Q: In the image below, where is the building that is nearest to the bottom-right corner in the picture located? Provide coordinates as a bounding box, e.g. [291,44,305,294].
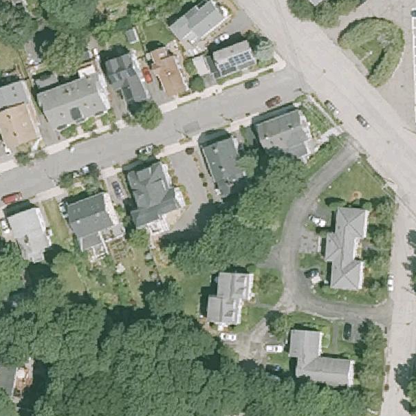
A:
[290,330,355,387]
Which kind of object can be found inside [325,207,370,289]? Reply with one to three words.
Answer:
house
